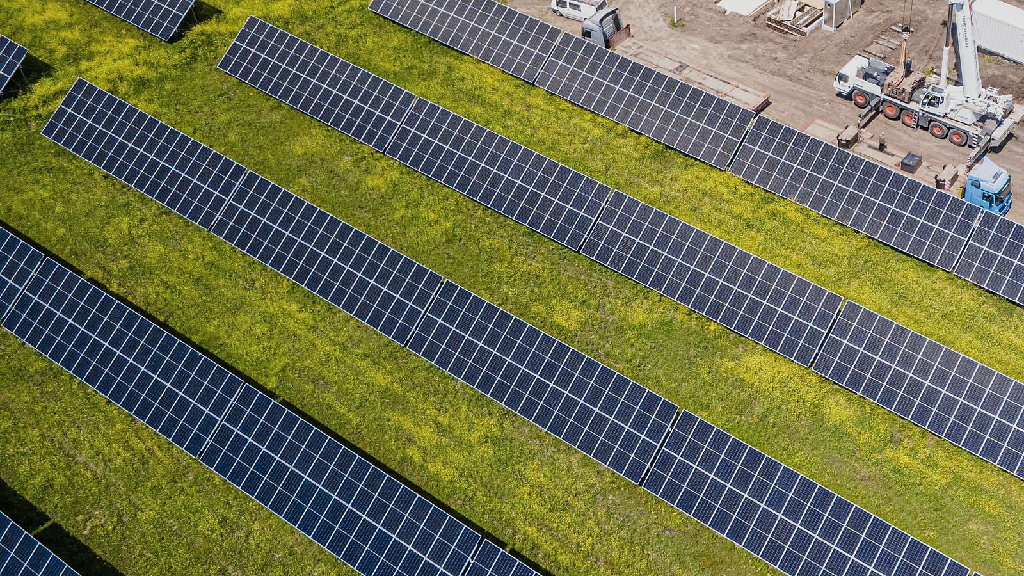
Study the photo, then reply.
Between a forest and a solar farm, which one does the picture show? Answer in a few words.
solar farm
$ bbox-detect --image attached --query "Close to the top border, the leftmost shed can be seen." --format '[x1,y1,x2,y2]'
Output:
[822,0,862,34]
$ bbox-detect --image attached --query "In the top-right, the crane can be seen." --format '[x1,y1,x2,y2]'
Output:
[830,0,1024,180]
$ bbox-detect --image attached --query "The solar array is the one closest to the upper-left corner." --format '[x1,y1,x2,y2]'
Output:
[0,35,28,98]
